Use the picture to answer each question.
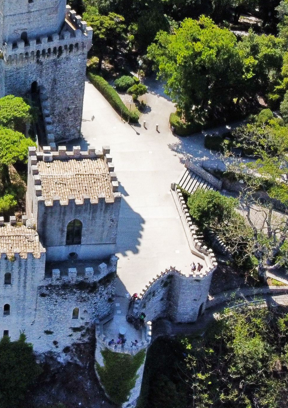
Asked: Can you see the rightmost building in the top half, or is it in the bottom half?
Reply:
bottom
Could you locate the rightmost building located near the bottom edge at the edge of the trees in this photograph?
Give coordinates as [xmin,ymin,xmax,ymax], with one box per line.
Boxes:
[89,310,154,407]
